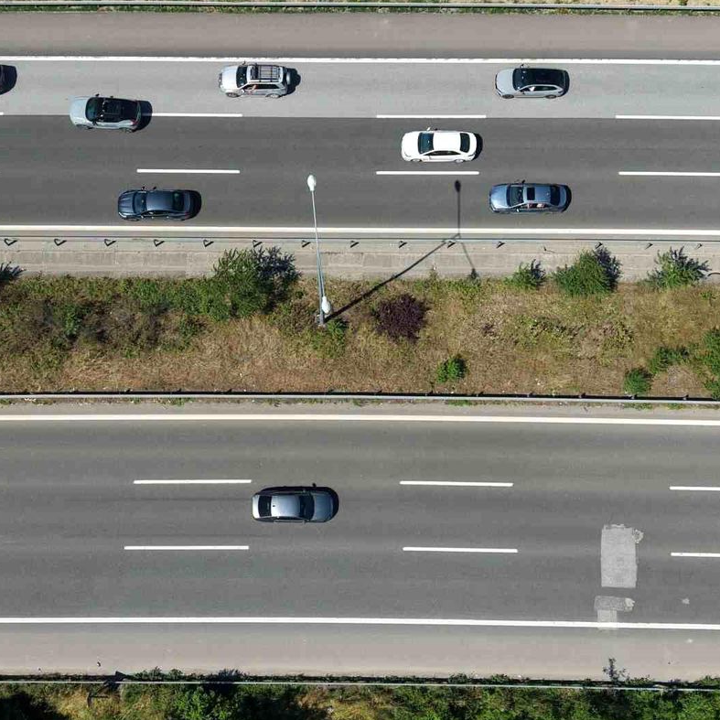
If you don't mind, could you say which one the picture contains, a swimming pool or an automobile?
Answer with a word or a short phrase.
automobile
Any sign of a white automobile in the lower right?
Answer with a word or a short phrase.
No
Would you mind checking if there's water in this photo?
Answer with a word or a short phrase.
No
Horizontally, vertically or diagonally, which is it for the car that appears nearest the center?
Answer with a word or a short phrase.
horizontally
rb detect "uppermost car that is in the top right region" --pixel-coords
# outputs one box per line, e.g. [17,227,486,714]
[495,59,568,98]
